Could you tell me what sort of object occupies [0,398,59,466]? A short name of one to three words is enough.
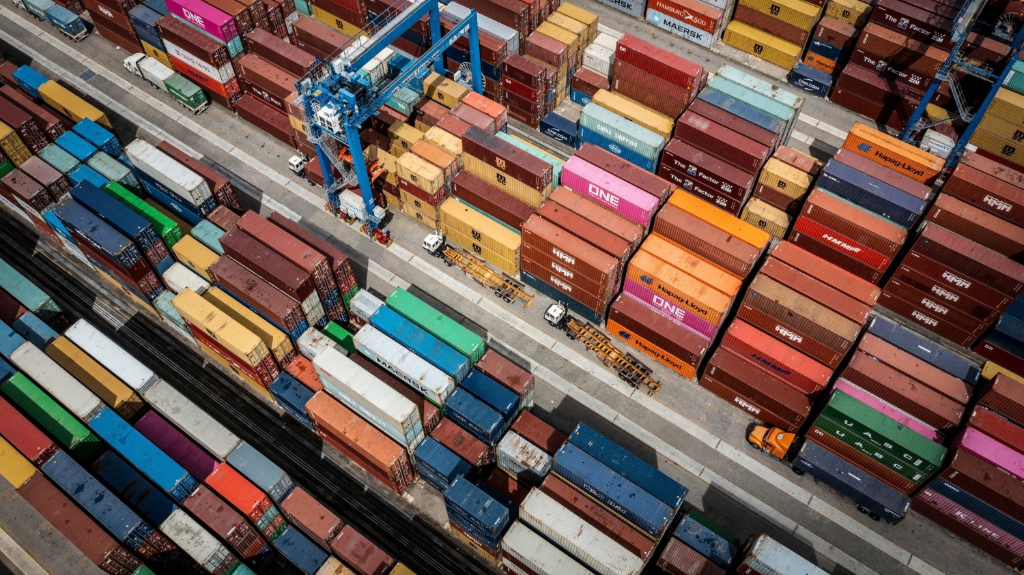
shipping container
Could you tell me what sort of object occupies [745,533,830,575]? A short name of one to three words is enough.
shipping container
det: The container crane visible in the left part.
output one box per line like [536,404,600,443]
[285,0,490,247]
